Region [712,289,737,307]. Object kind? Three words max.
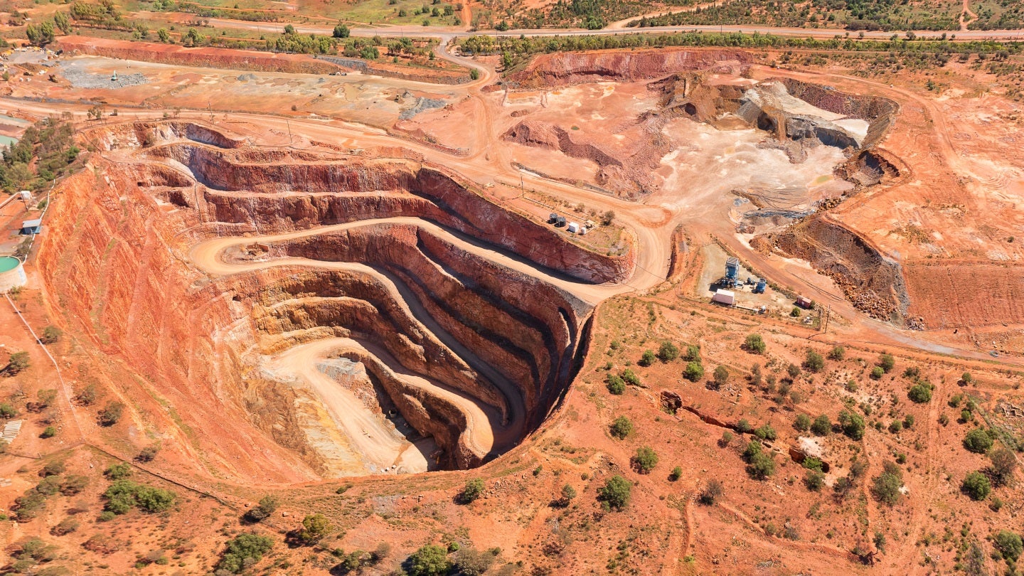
shed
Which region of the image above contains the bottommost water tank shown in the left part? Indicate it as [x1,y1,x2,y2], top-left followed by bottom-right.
[0,256,27,293]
